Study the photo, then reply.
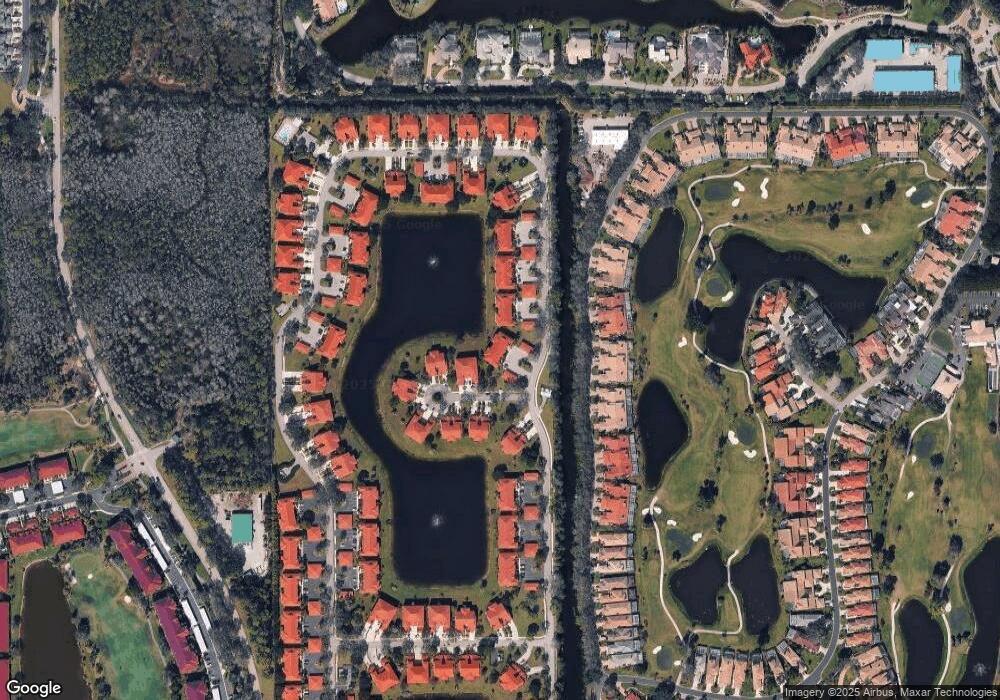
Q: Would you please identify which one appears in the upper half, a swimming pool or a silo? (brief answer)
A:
swimming pool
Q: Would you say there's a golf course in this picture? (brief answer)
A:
Yes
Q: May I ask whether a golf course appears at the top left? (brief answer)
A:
No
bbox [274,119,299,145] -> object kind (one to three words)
swimming pool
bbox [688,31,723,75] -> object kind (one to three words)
house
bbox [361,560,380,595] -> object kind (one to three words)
building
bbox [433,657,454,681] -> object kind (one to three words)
house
